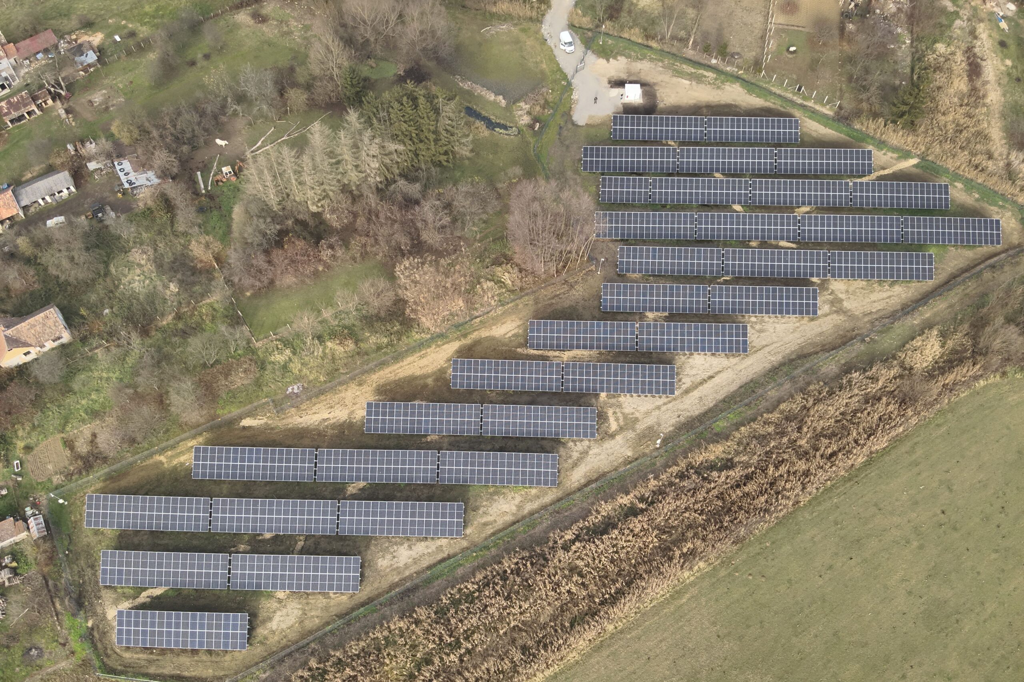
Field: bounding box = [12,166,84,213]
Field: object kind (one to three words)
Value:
barn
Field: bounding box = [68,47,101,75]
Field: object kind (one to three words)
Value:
shed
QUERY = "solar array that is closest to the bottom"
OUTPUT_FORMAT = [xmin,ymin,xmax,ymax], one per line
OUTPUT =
[113,610,250,651]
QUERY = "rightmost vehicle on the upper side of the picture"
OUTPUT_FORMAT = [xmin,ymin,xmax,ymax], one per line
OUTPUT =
[562,30,577,52]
